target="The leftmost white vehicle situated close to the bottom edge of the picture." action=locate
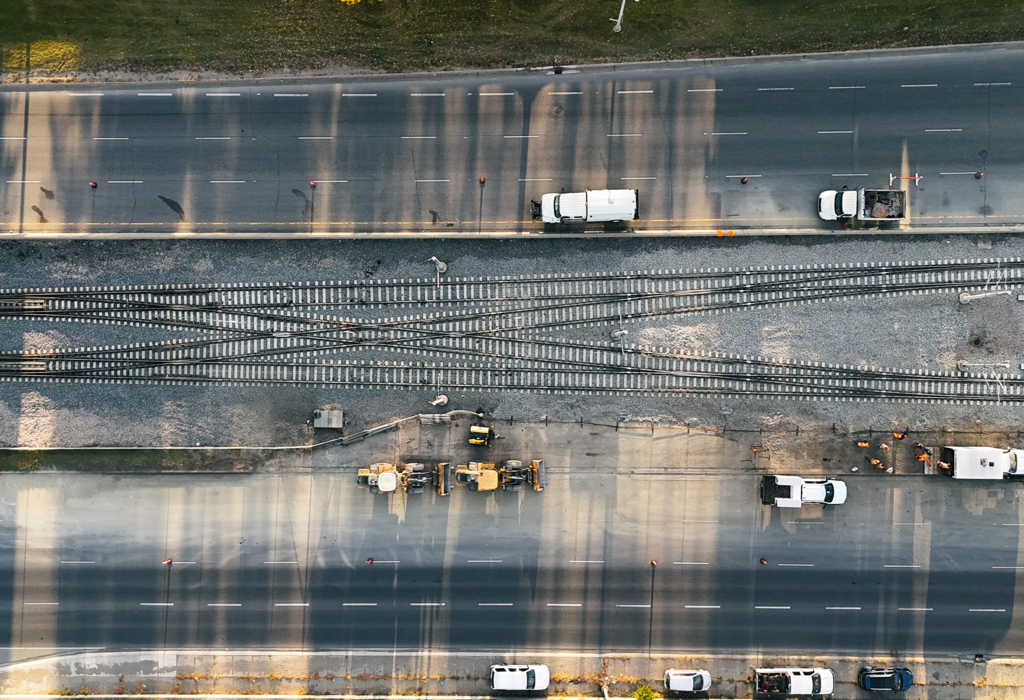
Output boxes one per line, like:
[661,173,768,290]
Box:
[490,660,550,691]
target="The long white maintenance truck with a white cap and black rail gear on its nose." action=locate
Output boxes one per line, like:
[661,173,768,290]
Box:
[529,189,641,221]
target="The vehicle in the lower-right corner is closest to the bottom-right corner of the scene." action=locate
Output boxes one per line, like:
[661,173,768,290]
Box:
[856,664,912,693]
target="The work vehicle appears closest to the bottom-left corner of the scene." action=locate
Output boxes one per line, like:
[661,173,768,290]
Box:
[356,459,454,494]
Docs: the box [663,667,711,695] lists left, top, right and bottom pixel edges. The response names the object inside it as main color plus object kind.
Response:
white car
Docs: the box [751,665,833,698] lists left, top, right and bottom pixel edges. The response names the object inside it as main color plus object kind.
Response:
white truck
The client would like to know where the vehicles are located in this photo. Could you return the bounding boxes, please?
[759,476,847,506]
[454,458,551,494]
[751,665,833,698]
[663,667,711,695]
[815,189,906,220]
[856,664,912,693]
[490,660,550,691]
[356,459,454,494]
[922,445,1024,479]
[529,189,641,221]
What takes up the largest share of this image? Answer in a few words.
paved ground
